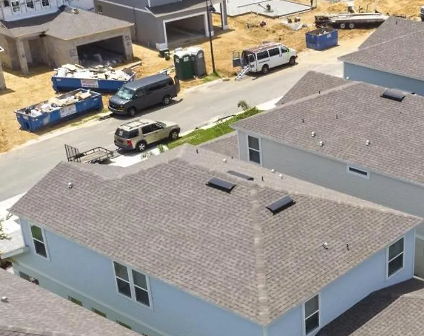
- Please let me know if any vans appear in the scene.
Yes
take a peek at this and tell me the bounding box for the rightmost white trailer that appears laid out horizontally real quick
[308,10,400,27]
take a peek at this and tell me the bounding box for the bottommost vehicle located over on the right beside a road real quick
[239,40,305,74]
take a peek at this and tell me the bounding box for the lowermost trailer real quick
[65,135,120,163]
